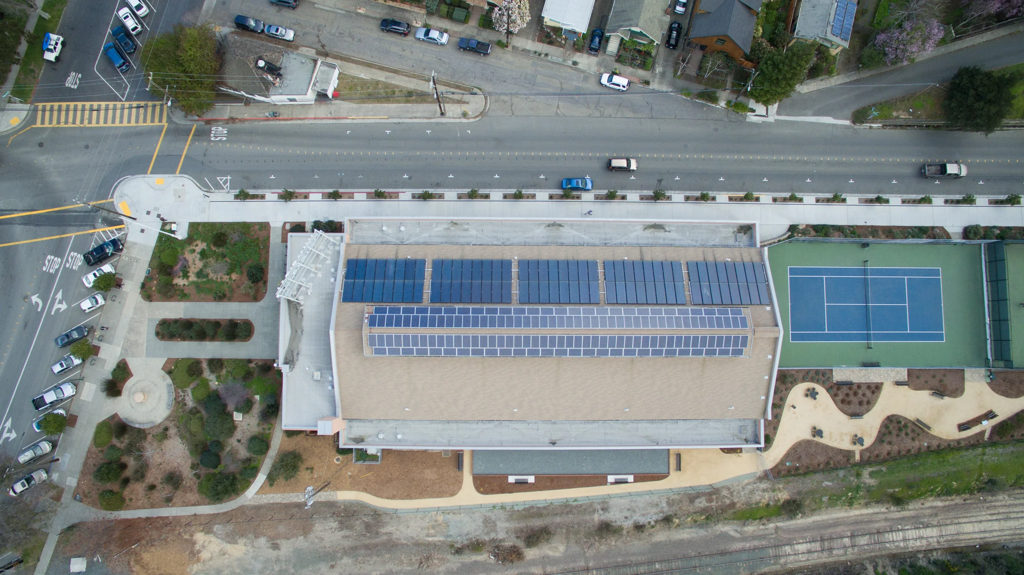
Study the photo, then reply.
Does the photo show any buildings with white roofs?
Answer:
Yes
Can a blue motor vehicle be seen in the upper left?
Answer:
Yes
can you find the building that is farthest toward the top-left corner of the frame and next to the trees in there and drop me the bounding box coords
[214,35,342,107]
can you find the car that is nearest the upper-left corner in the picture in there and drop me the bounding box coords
[44,32,64,60]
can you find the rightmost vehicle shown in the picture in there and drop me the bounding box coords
[921,162,967,178]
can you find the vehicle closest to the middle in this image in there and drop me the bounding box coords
[561,176,592,190]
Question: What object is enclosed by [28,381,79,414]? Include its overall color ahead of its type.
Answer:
white vehicle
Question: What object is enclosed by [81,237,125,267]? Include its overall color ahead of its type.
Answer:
black vehicle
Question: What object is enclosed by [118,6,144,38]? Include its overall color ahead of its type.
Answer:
white car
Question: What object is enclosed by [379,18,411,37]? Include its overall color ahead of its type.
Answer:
black car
